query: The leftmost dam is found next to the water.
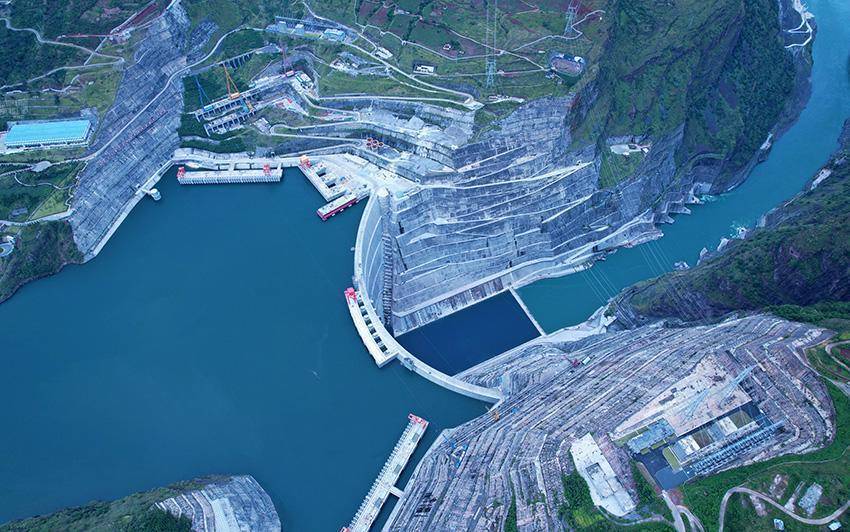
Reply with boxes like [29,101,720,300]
[351,188,502,408]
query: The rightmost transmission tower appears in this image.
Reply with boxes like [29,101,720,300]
[716,362,762,409]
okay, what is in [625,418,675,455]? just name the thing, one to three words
building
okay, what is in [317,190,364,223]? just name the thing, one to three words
ship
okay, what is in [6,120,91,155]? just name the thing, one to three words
building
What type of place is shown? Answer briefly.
port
